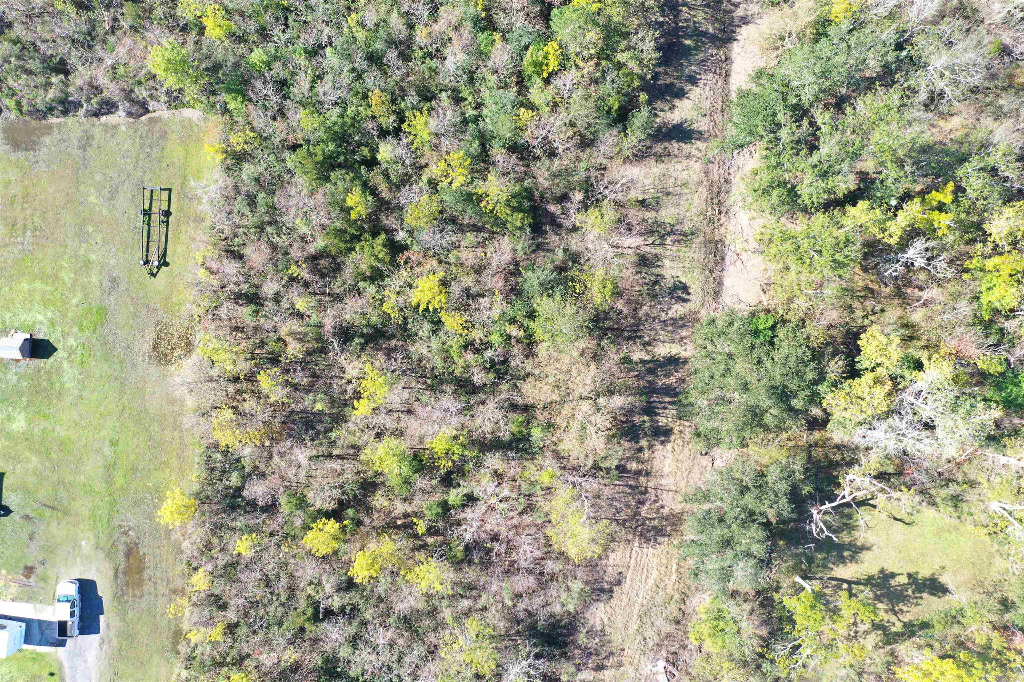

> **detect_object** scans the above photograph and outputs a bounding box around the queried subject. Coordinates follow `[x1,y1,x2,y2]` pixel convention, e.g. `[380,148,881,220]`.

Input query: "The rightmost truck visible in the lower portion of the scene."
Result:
[53,577,83,638]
